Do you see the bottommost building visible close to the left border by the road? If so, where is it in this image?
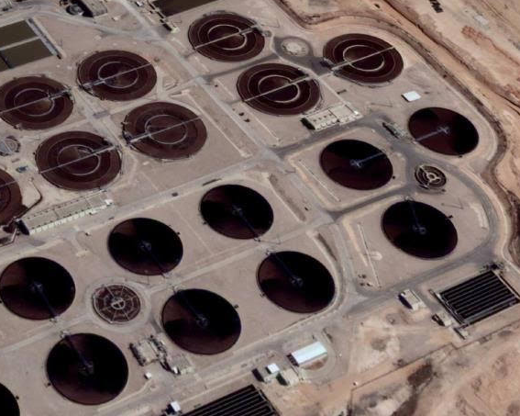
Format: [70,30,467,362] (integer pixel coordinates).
[22,190,106,238]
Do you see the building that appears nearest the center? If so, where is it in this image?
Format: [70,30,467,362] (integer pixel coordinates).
[305,111,337,136]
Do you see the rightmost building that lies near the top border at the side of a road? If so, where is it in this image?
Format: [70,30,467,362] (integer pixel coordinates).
[77,0,107,23]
